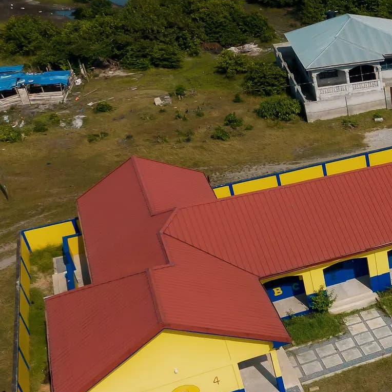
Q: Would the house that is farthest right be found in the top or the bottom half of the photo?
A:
top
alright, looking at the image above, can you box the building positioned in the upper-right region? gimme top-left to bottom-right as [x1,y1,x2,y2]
[281,16,392,101]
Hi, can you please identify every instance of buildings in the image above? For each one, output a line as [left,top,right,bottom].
[281,16,392,101]
[46,159,392,392]
[0,64,74,110]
